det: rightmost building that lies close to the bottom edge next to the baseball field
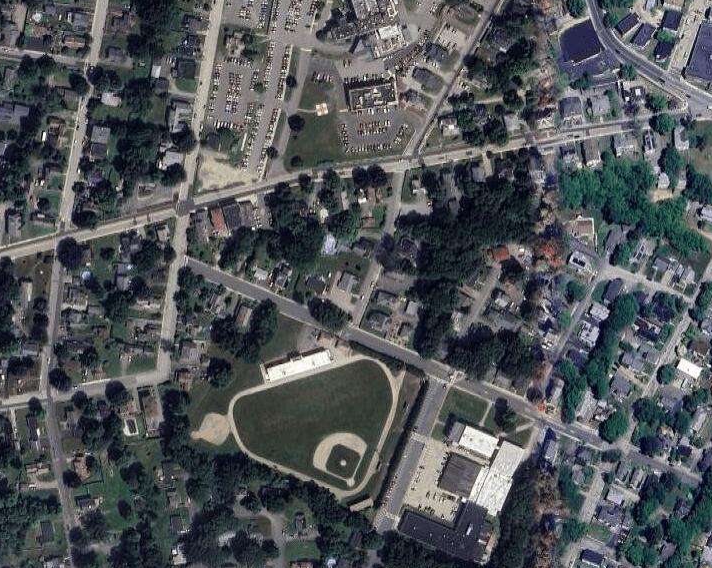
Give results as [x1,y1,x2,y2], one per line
[399,423,523,565]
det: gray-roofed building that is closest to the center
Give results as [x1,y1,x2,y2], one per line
[337,269,358,293]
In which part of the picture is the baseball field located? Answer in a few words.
bottom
